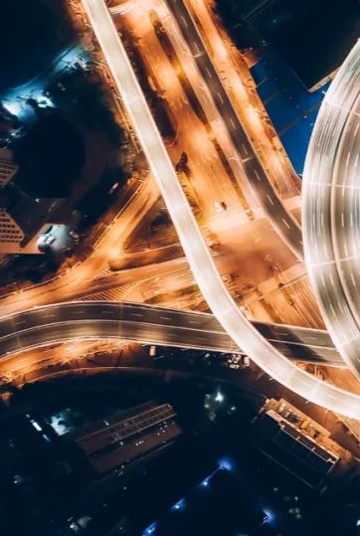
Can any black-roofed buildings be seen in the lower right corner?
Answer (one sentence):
Yes, a black-roofed building can be seen in the lower right corner.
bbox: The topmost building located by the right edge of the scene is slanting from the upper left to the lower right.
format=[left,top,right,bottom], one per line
[245,0,348,102]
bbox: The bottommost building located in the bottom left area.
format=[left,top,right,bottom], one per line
[57,484,127,536]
